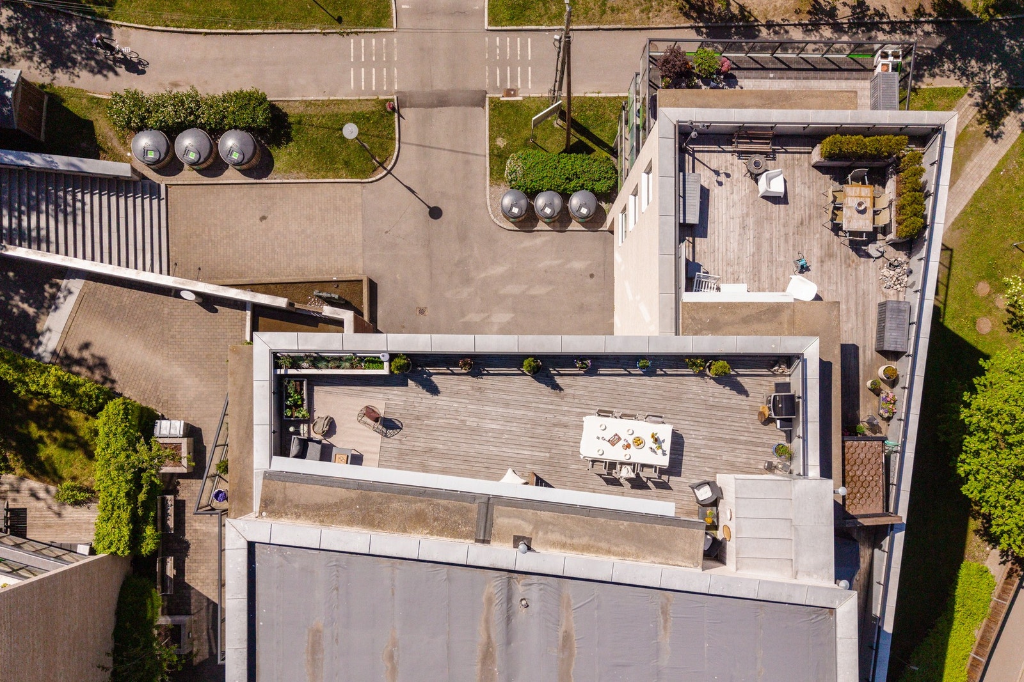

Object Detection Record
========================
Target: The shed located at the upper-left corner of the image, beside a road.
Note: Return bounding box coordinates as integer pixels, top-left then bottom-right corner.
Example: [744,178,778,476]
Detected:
[0,67,54,144]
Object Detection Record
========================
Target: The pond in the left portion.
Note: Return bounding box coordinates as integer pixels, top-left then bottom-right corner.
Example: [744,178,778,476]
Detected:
[192,277,372,334]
